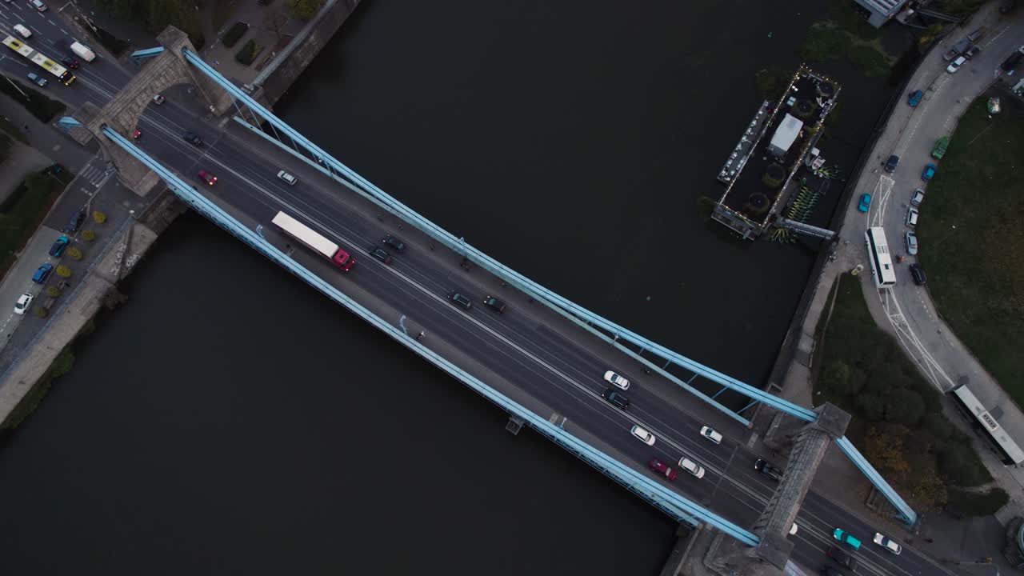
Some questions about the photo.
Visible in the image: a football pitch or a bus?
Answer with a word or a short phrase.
bus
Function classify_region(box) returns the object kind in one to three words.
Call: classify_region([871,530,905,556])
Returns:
car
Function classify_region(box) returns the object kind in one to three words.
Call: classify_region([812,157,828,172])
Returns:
boat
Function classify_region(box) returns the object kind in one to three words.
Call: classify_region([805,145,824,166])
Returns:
boat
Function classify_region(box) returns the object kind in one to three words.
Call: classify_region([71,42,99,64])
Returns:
vehicle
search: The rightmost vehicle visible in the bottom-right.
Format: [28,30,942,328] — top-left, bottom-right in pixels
[944,385,1024,476]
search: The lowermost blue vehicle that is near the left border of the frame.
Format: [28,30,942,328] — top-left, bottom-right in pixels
[32,261,55,284]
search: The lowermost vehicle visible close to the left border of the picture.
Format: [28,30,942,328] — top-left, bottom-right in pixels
[12,291,36,318]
